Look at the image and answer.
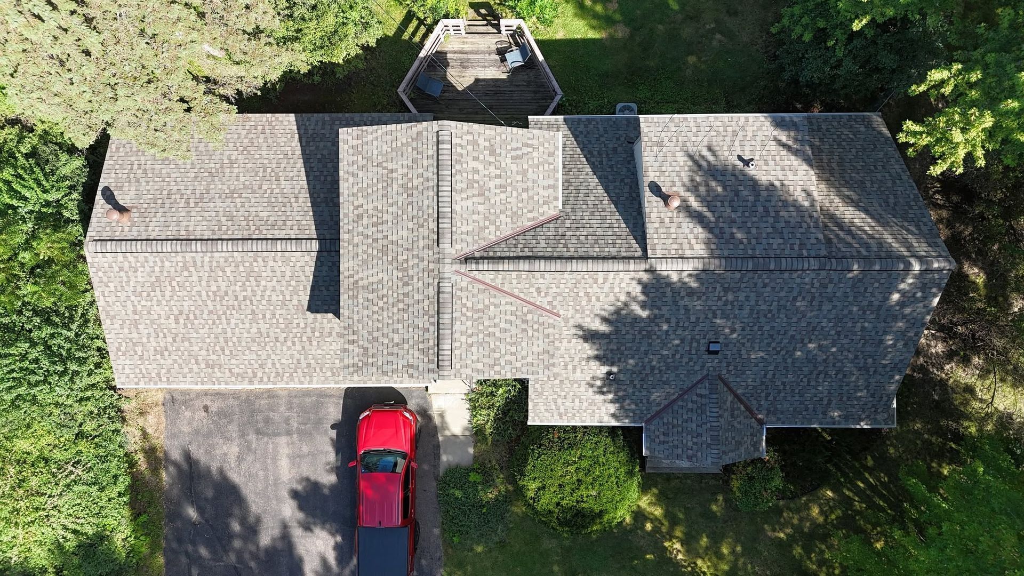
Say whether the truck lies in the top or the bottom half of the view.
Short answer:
bottom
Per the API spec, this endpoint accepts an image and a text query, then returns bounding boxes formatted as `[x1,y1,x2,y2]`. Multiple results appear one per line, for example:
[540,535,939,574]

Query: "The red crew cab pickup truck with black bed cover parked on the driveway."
[349,400,423,576]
